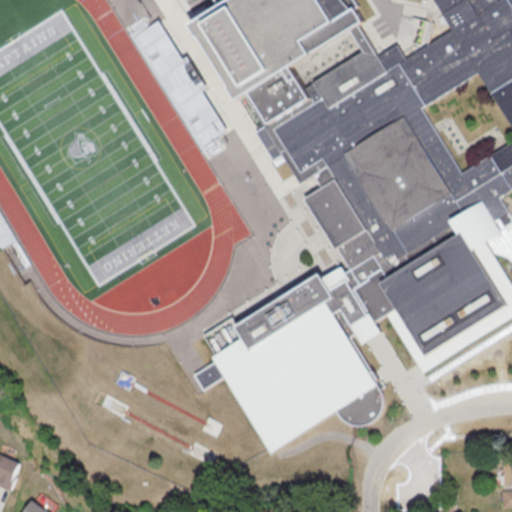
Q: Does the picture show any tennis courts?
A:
No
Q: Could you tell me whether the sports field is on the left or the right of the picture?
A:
left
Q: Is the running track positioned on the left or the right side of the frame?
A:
left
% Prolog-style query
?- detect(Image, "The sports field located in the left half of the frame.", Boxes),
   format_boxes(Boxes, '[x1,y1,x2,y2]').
[0,0,212,300]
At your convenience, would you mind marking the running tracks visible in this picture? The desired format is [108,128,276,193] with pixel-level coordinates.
[0,0,251,336]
